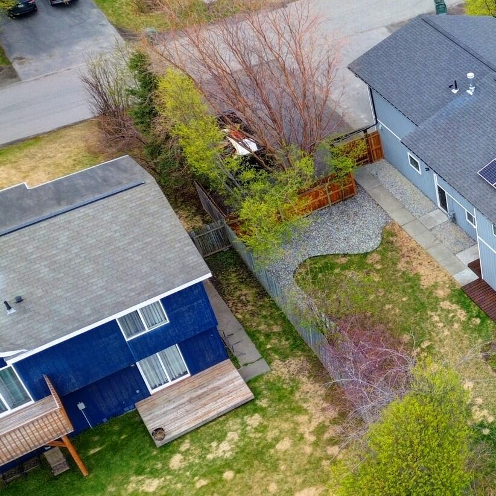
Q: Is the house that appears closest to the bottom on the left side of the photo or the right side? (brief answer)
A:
left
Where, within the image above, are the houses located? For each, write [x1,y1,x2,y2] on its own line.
[0,154,231,480]
[293,15,496,287]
